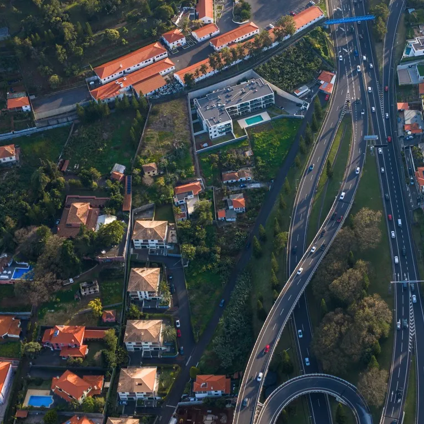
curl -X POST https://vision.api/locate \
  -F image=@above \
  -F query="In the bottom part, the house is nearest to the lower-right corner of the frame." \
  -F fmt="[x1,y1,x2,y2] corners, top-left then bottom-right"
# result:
[194,375,231,399]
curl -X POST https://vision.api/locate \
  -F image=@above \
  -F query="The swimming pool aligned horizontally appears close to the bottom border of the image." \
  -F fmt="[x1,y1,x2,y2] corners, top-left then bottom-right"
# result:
[25,393,54,408]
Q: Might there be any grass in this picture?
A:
Yes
